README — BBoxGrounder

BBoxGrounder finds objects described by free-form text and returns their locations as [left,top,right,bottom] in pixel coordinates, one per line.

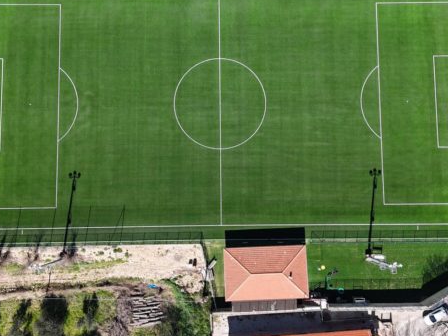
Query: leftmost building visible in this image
[224,245,309,302]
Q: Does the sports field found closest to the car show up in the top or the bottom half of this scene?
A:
bottom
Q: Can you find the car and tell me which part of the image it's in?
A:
bottom right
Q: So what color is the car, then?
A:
white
